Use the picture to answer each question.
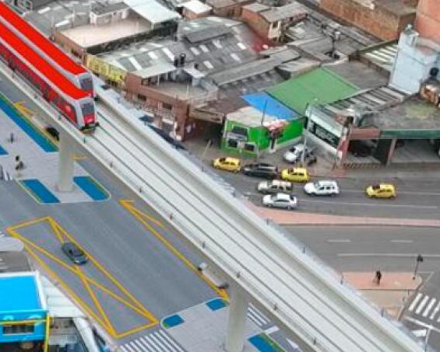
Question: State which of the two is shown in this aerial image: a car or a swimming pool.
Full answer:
I can see a car in this picture.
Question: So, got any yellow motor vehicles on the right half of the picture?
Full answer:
Yes, a yellow motor vehicle is visible on the right half of the picture.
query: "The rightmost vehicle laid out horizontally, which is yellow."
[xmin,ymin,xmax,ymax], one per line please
[363,183,396,199]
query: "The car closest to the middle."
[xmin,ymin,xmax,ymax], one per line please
[212,155,242,172]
